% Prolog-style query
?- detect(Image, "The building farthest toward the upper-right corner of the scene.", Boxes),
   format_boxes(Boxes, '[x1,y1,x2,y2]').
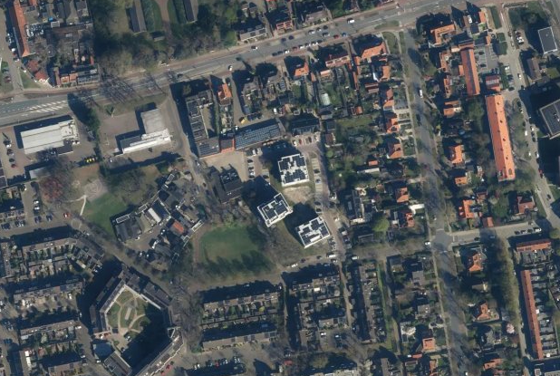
[537,27,557,57]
